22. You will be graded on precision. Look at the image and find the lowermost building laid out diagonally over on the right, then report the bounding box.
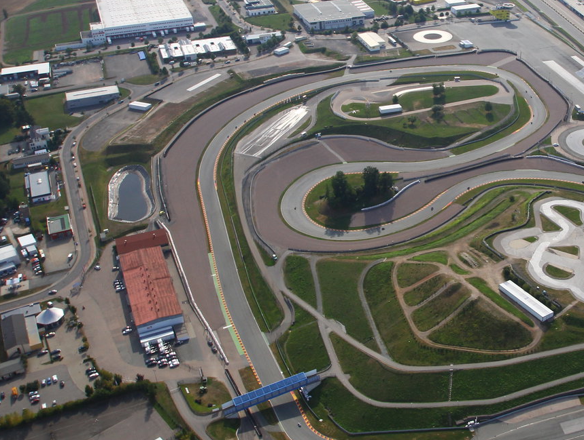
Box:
[509,277,555,322]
